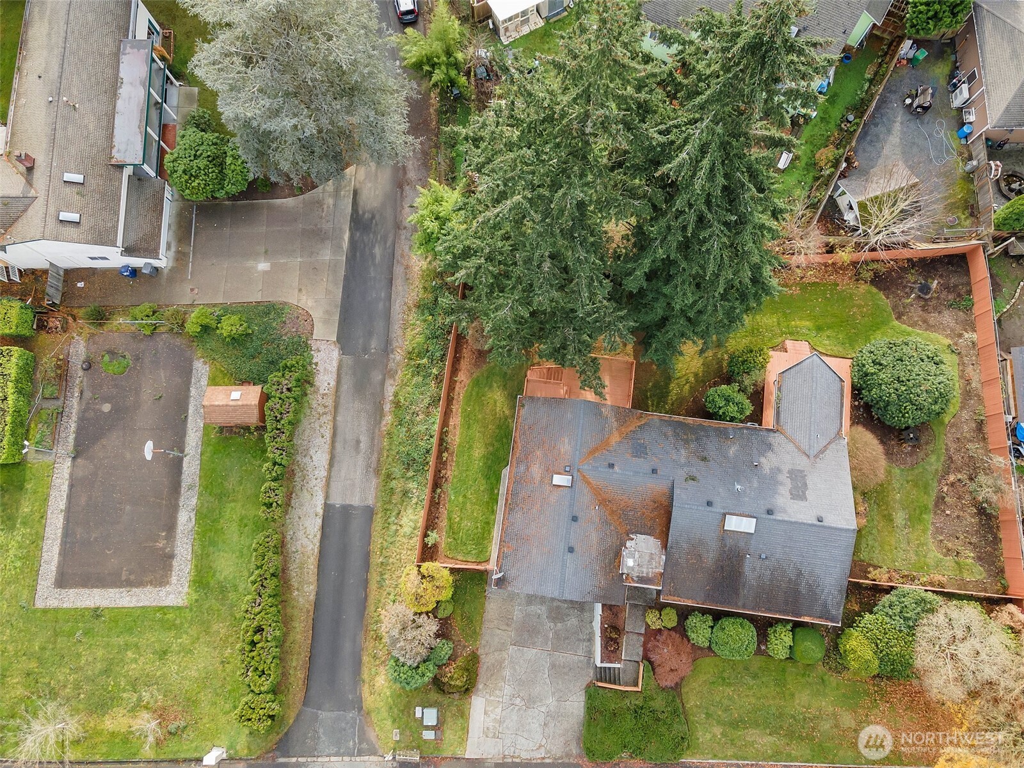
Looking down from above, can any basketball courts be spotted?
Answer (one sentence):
Yes, the frame does contain a basketball court.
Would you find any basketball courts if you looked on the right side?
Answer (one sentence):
No, there's no basketball court to be seen on the right side.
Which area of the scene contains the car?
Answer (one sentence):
The car appears toward the top of the photo.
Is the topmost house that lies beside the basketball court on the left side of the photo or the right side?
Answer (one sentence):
You can find the topmost house that lies beside the basketball court on the left side of the picture.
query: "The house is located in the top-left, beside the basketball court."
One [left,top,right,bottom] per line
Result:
[0,0,178,269]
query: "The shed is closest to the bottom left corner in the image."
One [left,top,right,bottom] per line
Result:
[202,380,270,426]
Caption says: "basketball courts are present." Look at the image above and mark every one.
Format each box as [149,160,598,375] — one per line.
[54,332,192,589]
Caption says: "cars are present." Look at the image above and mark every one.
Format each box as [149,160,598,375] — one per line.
[397,0,421,22]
